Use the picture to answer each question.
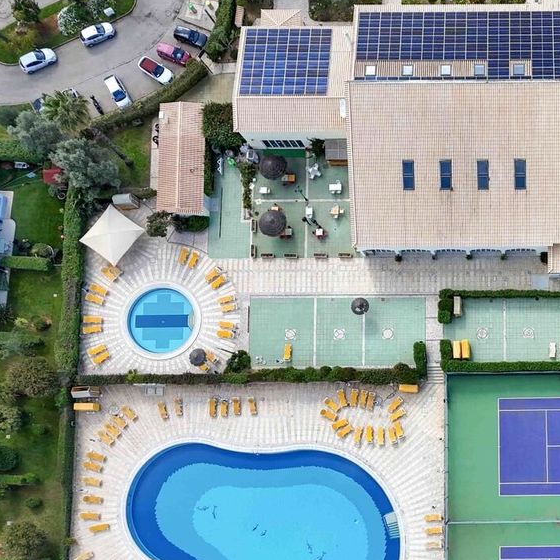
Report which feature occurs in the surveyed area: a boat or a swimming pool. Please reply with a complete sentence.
It is a swimming pool that can be seen here.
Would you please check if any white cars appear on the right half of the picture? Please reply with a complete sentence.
No, I see no white car on the right half of the picture.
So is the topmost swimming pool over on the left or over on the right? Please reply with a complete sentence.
The topmost swimming pool sits on the left side.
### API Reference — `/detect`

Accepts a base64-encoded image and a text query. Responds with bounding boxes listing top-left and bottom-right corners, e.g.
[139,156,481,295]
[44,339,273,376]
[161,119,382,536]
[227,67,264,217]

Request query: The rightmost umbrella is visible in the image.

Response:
[351,298,370,316]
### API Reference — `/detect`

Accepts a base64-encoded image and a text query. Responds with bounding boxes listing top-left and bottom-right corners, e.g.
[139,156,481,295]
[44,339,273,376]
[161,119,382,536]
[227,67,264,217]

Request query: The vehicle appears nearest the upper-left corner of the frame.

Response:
[19,49,58,73]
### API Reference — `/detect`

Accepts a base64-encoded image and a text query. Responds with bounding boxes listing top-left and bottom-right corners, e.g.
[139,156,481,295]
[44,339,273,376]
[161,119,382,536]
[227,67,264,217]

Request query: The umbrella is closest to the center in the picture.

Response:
[260,211,287,237]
